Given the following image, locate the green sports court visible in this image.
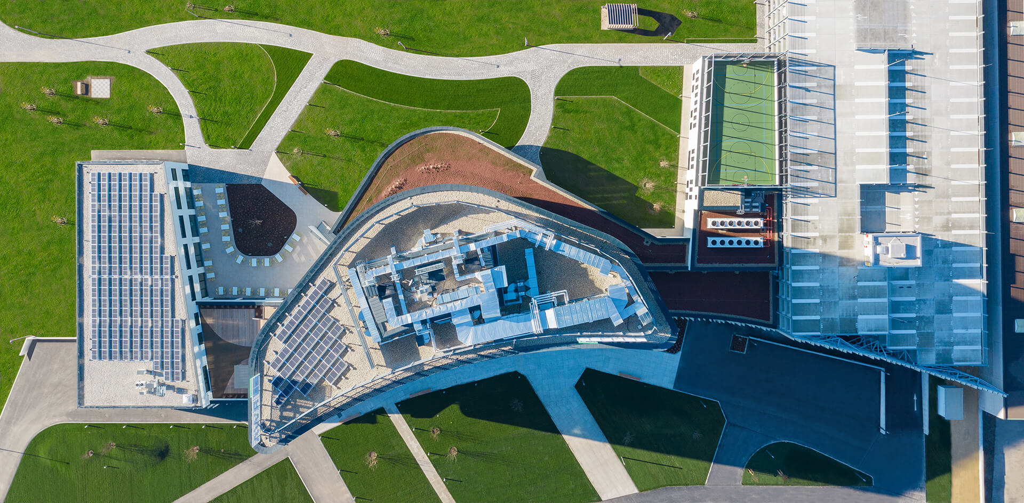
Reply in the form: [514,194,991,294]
[708,61,774,184]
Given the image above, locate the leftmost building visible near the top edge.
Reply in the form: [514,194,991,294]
[601,3,638,30]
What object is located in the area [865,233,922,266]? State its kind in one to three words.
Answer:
house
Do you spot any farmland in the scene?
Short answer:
No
